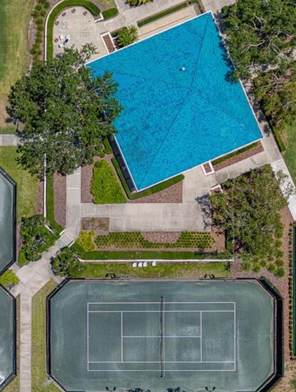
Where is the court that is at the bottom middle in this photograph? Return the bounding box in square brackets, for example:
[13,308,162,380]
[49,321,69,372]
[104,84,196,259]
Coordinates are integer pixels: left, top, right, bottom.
[50,279,275,392]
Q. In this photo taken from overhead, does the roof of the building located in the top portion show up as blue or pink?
blue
